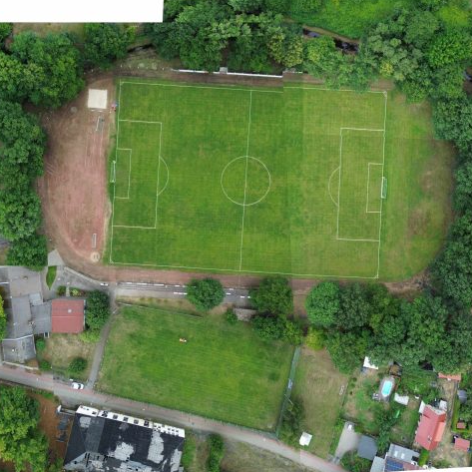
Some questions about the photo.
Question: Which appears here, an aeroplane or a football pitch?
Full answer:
It is a football pitch that can be seen here.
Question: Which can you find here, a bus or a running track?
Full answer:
The one in the frame is a running track.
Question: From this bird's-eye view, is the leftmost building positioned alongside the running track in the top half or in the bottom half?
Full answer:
You can find the leftmost building positioned alongside the running track in the bottom half.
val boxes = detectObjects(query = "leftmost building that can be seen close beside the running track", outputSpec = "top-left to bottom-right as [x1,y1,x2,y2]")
[0,266,85,365]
